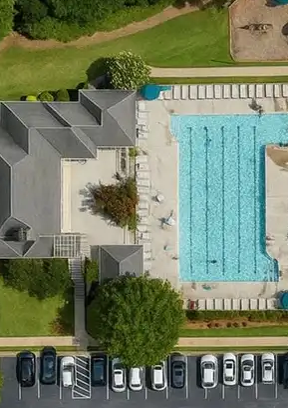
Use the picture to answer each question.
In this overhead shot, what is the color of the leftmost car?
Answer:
black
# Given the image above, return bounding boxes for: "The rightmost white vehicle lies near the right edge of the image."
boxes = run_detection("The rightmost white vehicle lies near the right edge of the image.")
[260,353,276,385]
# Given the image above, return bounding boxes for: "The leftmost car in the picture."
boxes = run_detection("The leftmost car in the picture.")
[16,351,37,389]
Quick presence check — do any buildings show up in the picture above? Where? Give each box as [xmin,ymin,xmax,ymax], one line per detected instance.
[0,89,137,258]
[98,245,146,293]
